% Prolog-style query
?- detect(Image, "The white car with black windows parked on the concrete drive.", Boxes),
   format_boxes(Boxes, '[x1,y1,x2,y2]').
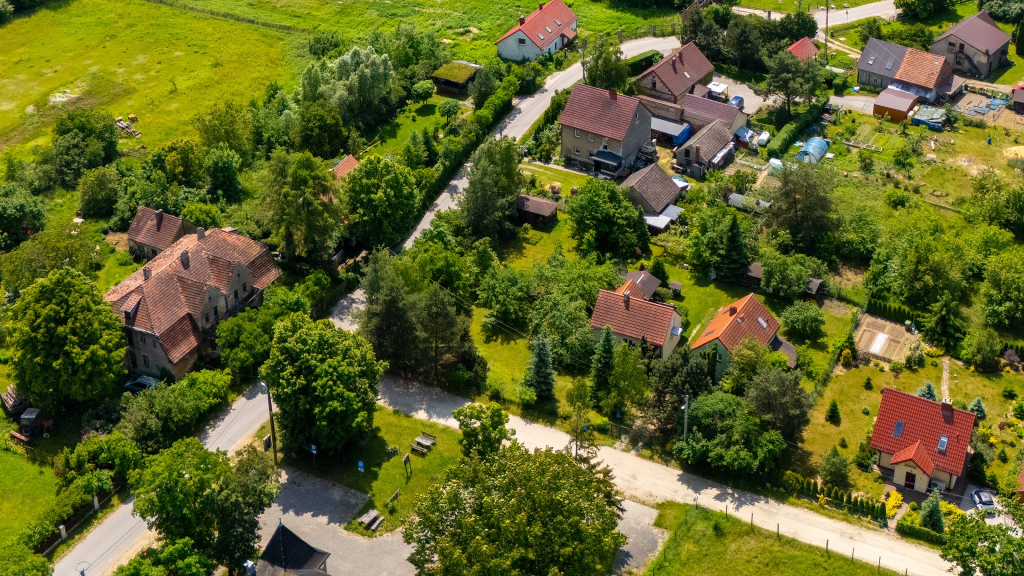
[967,484,1005,518]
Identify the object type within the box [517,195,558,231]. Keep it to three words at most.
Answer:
gazebo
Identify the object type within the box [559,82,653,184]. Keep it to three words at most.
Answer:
house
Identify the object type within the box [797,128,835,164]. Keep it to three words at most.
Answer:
greenhouse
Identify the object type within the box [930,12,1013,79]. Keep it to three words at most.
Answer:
barn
